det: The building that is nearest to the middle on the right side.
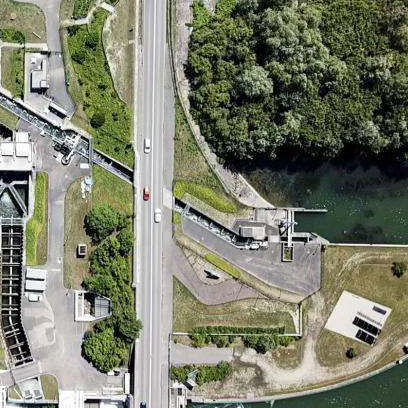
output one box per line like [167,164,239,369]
[235,226,267,238]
